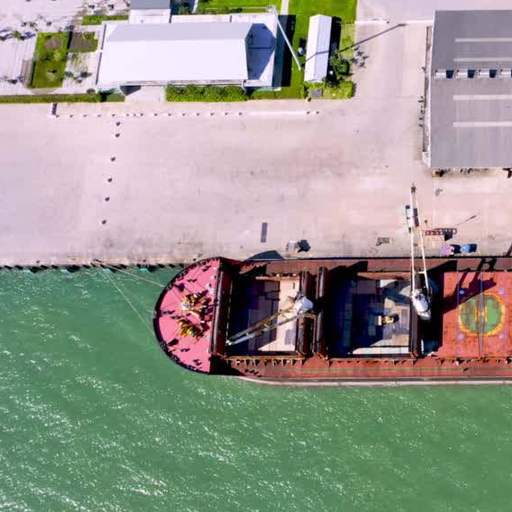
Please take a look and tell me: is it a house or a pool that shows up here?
house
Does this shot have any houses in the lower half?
No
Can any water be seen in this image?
Yes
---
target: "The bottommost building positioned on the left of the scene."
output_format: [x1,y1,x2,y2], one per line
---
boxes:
[101,13,281,102]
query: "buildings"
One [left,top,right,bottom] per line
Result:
[305,13,332,86]
[101,13,281,102]
[423,9,512,188]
